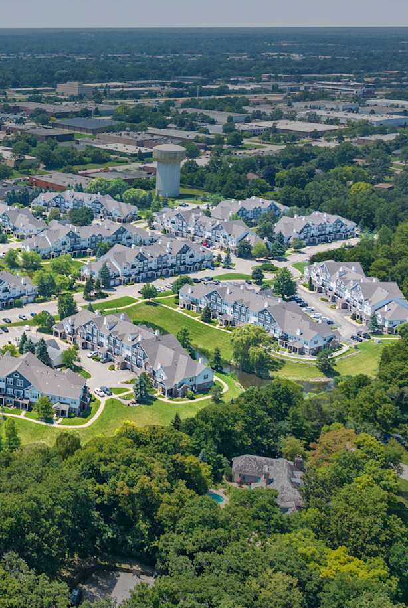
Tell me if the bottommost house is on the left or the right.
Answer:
right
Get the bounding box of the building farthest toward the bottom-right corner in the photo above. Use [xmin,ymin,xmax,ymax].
[229,446,314,527]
